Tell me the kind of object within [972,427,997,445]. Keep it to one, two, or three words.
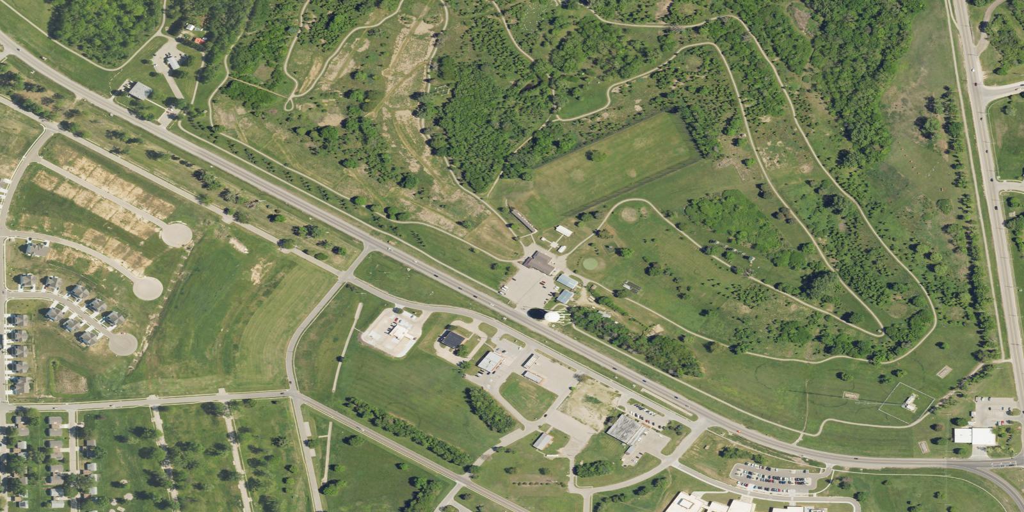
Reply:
building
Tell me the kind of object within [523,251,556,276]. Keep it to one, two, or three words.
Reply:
building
